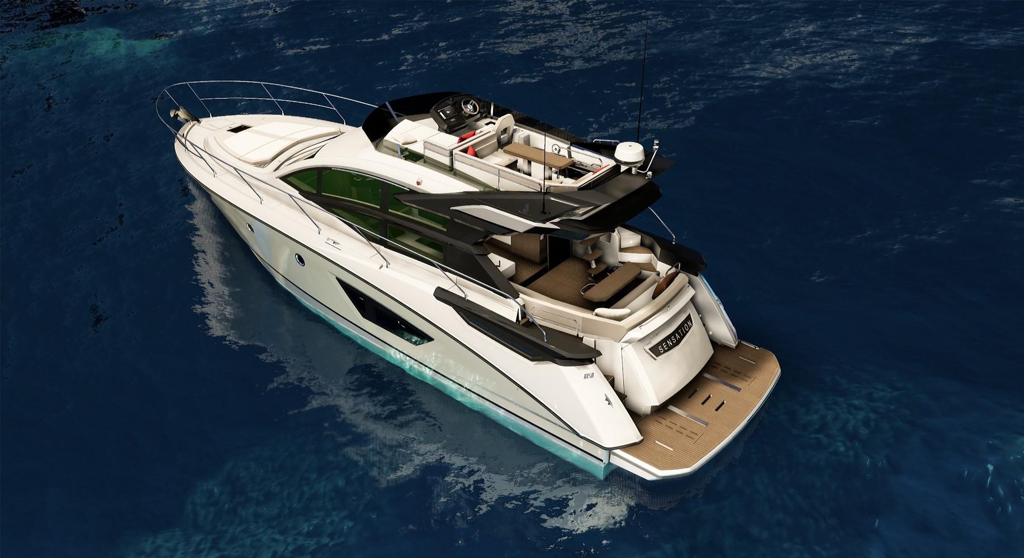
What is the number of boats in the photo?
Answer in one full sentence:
The picture shows 1 boat.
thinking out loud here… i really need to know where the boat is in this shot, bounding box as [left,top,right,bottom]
[156,20,787,488]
